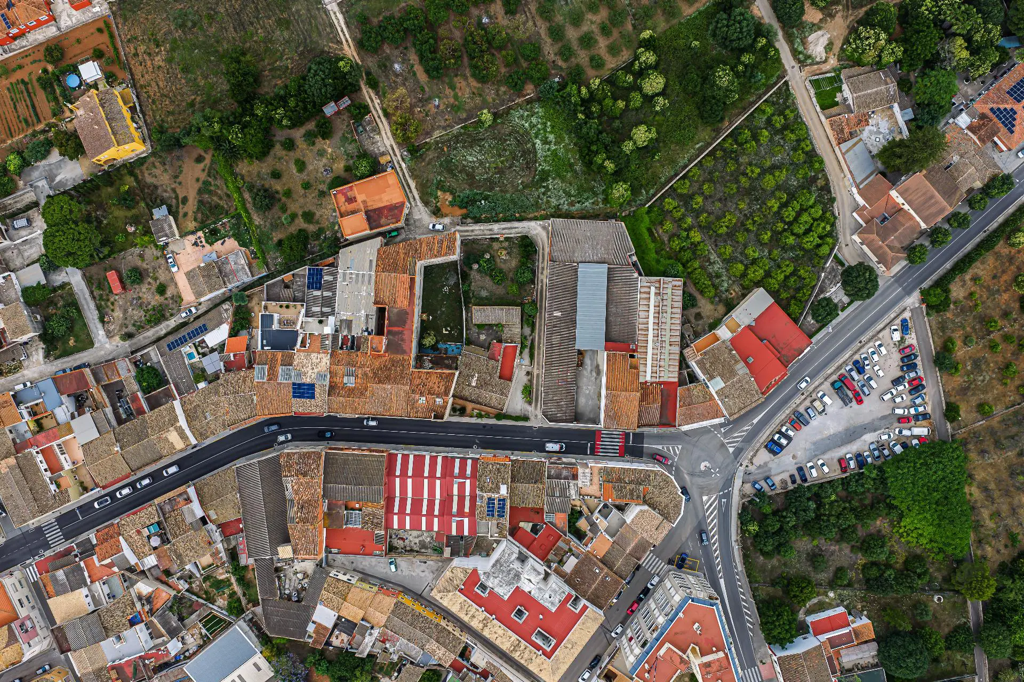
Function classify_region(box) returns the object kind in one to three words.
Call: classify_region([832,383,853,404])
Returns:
truck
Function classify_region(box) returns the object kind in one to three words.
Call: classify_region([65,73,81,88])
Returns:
swimming pool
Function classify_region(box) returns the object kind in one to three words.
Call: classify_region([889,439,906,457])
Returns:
car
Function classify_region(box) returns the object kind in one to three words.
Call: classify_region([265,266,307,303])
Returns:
shed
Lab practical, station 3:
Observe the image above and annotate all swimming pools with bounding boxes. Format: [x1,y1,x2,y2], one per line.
[65,73,81,88]
[181,343,201,361]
